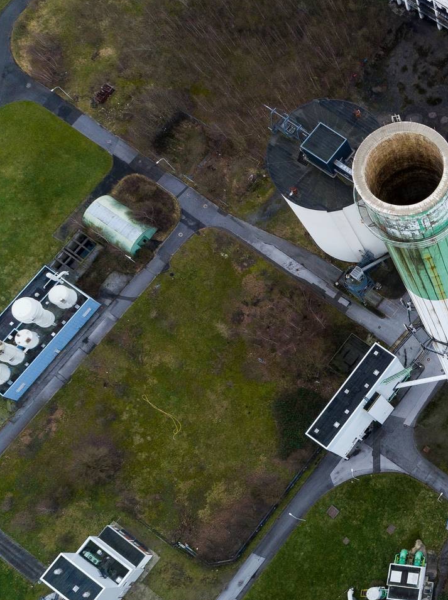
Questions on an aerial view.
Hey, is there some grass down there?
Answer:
Yes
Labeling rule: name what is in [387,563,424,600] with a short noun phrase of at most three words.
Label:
building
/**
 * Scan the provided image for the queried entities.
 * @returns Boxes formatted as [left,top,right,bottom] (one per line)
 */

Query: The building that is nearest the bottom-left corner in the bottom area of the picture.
[40,527,166,600]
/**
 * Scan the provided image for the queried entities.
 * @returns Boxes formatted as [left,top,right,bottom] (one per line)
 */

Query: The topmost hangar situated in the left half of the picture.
[85,196,158,258]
